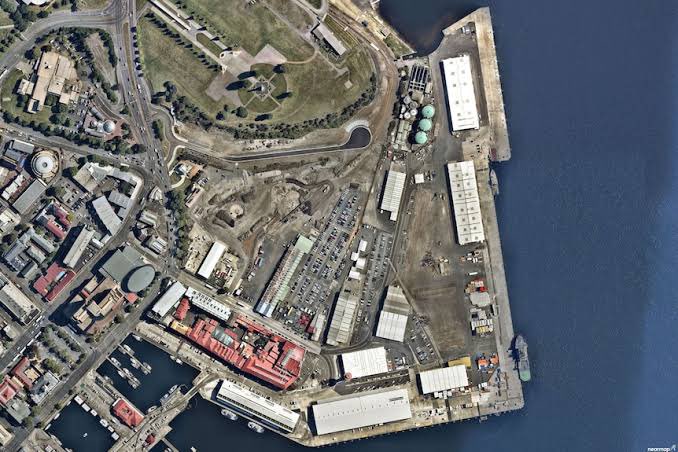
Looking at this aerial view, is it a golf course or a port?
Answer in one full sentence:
This looks like a port.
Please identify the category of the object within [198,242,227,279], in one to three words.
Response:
shed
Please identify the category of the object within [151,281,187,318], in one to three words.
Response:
building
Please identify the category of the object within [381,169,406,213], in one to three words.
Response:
shed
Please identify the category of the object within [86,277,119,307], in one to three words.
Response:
building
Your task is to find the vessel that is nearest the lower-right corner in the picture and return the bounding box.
[517,336,530,383]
